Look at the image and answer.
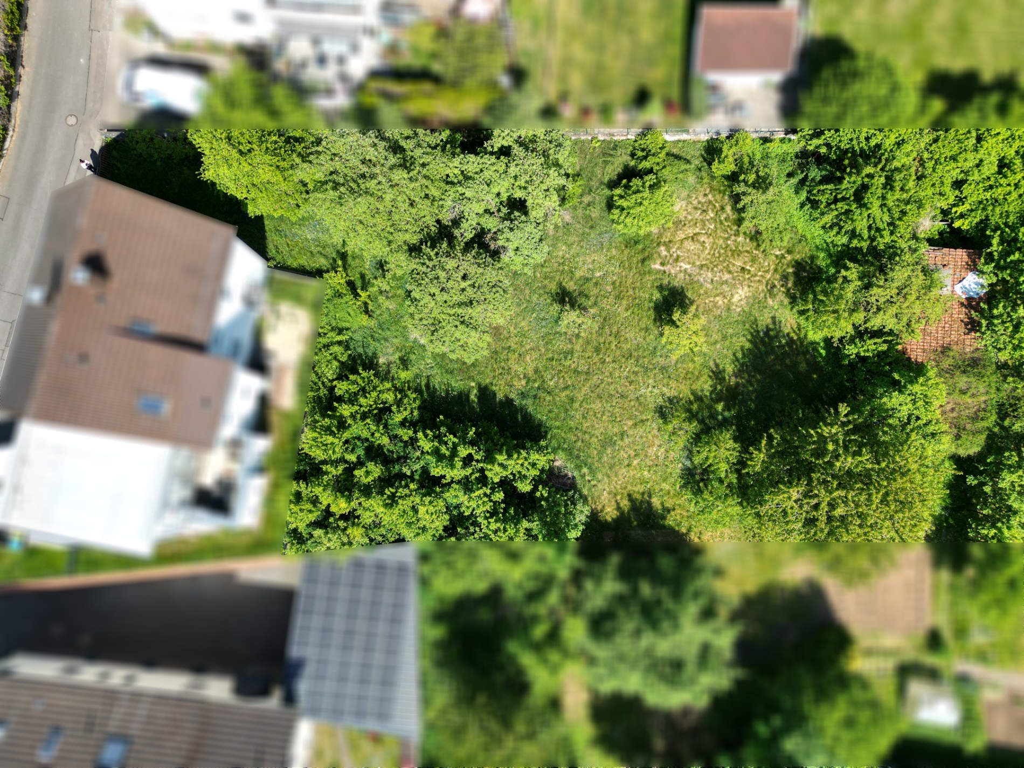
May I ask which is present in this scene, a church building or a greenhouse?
greenhouse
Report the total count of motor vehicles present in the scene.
1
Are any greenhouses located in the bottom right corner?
Yes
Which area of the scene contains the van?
top left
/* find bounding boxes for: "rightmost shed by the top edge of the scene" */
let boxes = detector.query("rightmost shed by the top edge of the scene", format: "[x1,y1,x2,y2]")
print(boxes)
[690,3,799,91]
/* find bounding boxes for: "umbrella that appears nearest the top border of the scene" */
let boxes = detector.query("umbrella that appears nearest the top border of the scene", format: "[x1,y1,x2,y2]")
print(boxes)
[462,0,495,27]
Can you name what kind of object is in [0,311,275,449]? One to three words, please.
house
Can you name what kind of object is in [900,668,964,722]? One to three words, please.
greenhouse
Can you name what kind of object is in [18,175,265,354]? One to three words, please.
house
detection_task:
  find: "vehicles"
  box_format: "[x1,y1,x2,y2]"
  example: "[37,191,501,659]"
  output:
[128,66,213,118]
